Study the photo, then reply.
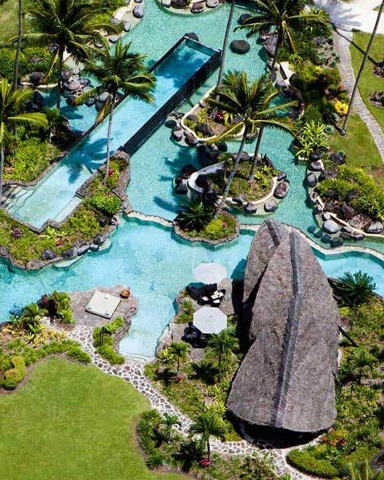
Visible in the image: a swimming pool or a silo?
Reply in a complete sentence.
There is a swimming pool in the scene.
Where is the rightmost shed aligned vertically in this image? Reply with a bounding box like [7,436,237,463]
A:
[227,219,342,451]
